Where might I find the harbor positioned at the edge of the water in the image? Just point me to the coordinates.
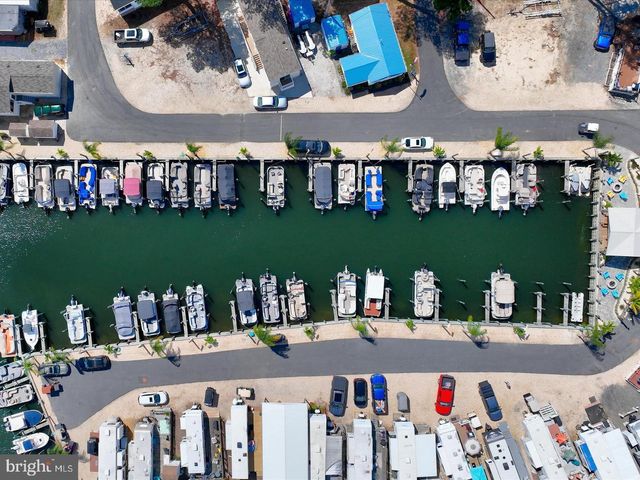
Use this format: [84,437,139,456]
[0,157,601,480]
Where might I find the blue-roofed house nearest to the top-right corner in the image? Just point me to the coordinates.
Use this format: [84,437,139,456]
[339,3,407,90]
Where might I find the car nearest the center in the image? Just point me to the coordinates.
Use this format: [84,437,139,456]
[298,139,331,155]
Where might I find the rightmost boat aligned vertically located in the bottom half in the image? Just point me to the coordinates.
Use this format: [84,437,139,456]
[489,262,515,324]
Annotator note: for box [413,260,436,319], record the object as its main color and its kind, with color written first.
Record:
white boat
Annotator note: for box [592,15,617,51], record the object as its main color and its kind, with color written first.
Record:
blue car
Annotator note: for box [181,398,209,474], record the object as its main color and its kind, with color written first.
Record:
white vehicle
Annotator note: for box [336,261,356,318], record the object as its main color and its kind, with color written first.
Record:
white boat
